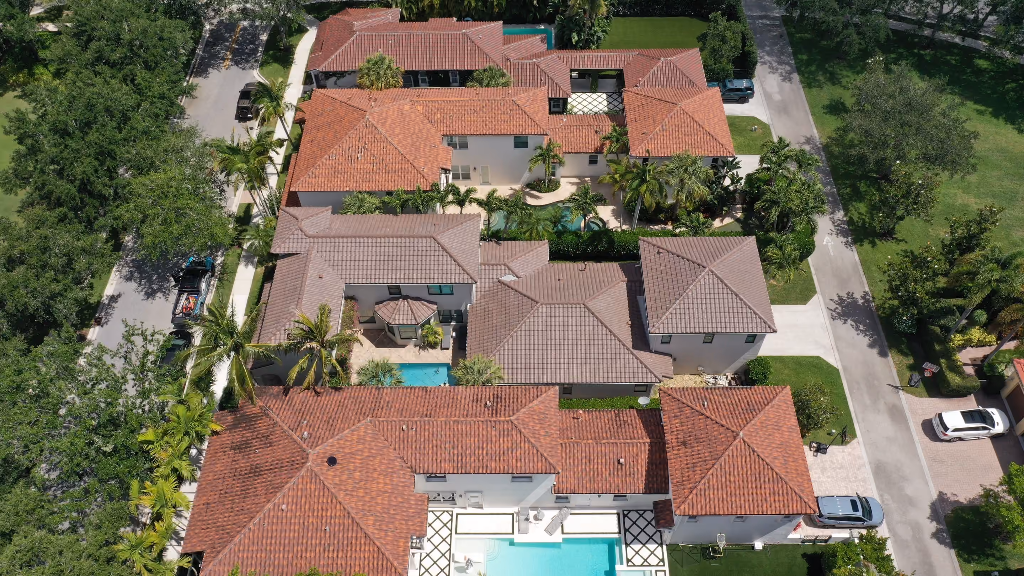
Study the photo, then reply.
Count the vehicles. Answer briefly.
six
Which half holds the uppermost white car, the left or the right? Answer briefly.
right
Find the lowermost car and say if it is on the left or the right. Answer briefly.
right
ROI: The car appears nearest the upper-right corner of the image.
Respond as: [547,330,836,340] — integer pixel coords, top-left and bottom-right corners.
[708,77,757,103]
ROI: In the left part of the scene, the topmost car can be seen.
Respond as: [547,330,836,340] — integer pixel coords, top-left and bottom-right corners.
[234,83,263,115]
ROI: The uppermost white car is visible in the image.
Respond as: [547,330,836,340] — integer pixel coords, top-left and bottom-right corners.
[937,404,1011,441]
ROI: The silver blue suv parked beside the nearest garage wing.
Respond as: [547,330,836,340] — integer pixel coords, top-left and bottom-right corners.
[809,492,885,528]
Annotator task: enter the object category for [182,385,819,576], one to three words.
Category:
house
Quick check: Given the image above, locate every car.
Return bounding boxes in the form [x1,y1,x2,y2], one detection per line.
[234,83,263,115]
[809,492,885,528]
[937,404,1011,441]
[708,77,757,103]
[156,331,189,382]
